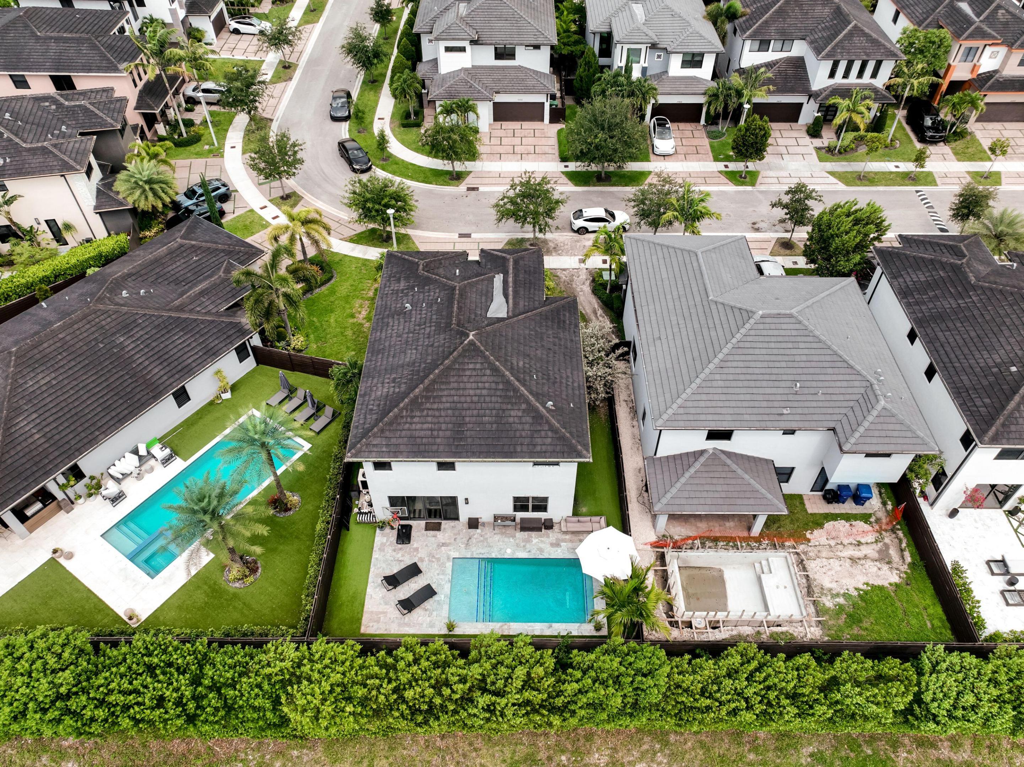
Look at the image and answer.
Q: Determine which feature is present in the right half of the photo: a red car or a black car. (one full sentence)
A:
Looking in the right half of the photo, you will find a black car.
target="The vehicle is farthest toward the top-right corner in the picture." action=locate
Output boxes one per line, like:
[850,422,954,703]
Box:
[902,97,948,139]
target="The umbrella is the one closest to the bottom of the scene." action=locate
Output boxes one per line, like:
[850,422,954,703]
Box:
[576,526,640,583]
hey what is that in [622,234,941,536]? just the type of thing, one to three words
house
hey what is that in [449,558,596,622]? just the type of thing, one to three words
swimming pool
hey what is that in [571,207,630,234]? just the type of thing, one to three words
car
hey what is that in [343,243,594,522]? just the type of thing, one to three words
house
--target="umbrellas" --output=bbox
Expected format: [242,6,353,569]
[280,372,294,401]
[576,526,640,583]
[307,391,320,420]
